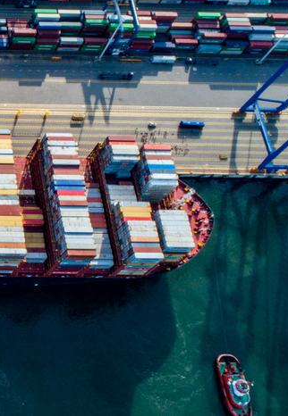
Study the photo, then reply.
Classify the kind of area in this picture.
port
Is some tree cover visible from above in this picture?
No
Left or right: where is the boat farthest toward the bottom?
right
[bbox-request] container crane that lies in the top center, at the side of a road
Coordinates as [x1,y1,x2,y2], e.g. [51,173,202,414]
[103,0,142,53]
